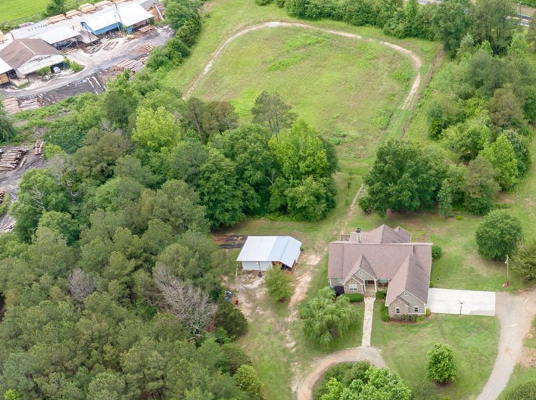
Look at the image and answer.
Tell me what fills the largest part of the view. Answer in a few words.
trees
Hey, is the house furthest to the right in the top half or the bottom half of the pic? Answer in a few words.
bottom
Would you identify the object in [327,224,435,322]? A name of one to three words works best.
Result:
house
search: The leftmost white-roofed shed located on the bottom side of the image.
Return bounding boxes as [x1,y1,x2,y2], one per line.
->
[235,236,303,272]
